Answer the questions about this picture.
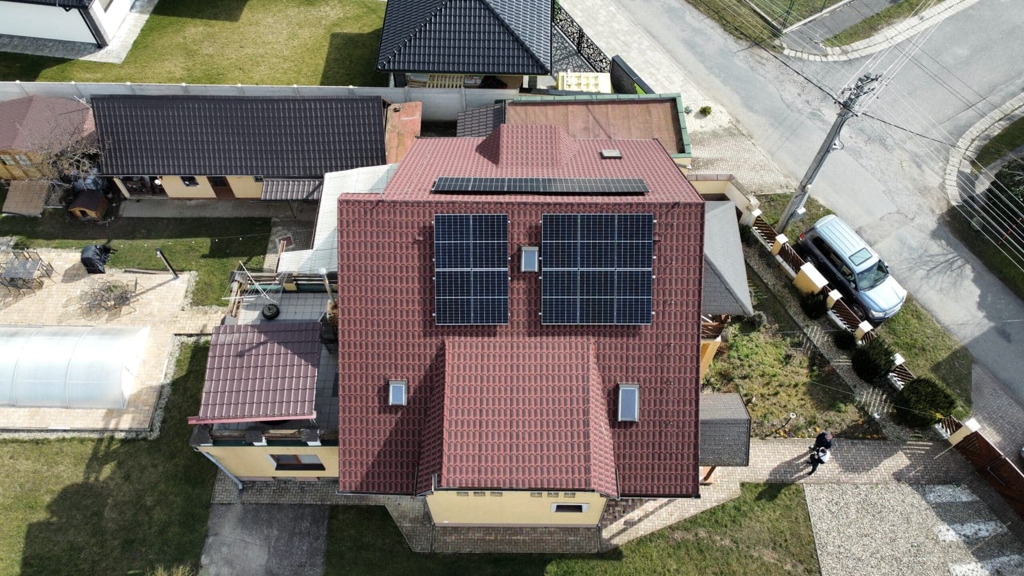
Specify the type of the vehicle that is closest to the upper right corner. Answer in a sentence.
The vehicle that is closest to the upper right corner in the image is an automobile.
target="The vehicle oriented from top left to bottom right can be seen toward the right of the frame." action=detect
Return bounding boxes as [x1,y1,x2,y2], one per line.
[803,216,908,321]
